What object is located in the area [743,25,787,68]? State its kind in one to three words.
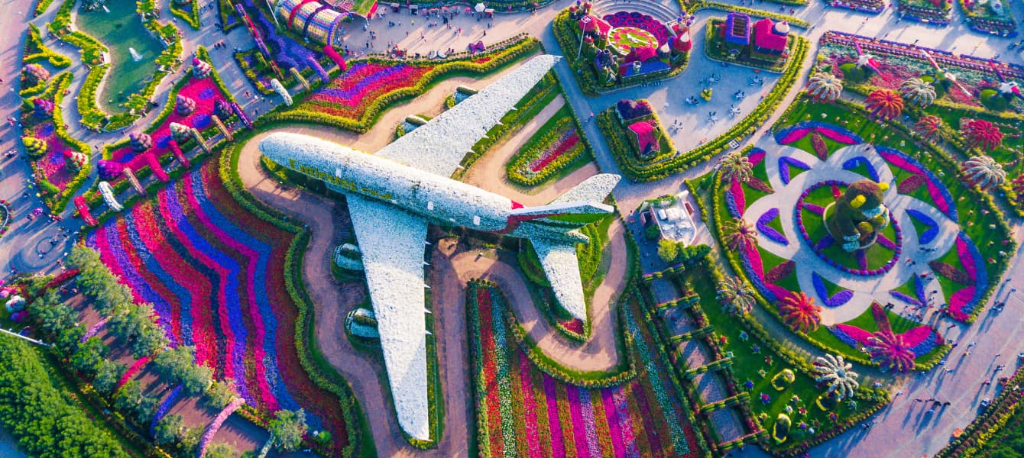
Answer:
house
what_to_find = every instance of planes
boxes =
[259,48,630,436]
